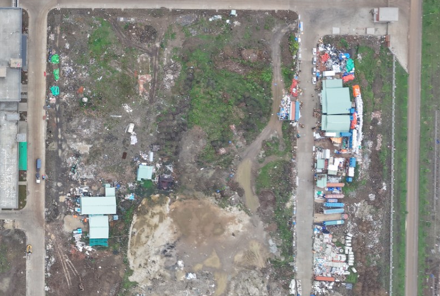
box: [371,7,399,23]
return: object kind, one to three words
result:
building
